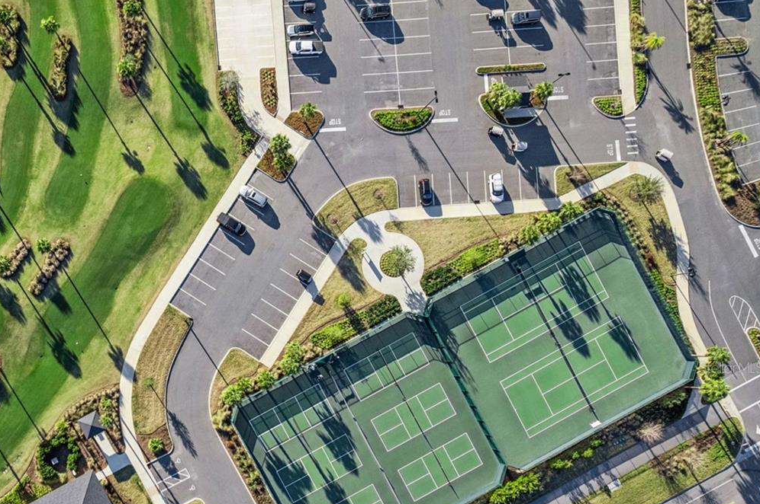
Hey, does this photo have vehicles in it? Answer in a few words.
Yes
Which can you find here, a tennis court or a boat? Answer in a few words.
tennis court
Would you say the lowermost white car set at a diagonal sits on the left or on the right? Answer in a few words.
left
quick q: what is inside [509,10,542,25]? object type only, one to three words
car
